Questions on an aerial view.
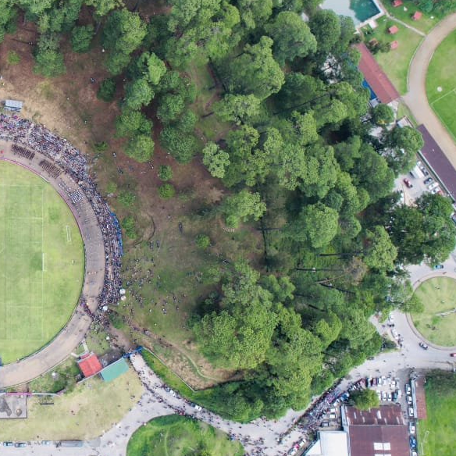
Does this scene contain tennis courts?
No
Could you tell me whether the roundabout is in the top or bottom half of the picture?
bottom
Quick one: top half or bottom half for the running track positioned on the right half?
top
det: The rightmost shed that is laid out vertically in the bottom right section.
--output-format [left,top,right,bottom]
[410,376,427,417]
